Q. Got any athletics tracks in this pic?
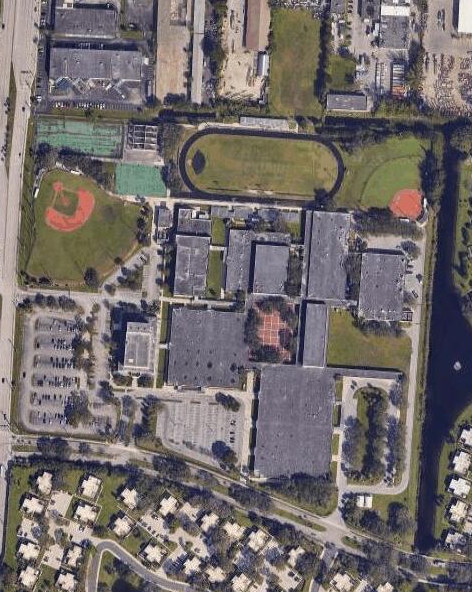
Yes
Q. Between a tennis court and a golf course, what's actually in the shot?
tennis court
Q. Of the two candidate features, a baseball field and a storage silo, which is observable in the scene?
baseball field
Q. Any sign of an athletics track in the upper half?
Yes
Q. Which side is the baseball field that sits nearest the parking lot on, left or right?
left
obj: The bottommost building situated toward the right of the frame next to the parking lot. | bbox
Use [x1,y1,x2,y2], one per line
[254,367,335,478]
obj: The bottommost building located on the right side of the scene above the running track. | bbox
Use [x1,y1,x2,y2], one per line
[327,95,367,111]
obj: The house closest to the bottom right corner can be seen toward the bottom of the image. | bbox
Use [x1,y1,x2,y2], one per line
[445,529,468,550]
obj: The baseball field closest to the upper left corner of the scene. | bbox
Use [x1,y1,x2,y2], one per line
[26,165,142,282]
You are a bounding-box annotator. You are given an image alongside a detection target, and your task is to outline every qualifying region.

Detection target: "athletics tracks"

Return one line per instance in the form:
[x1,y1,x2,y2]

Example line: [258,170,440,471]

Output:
[179,128,345,202]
